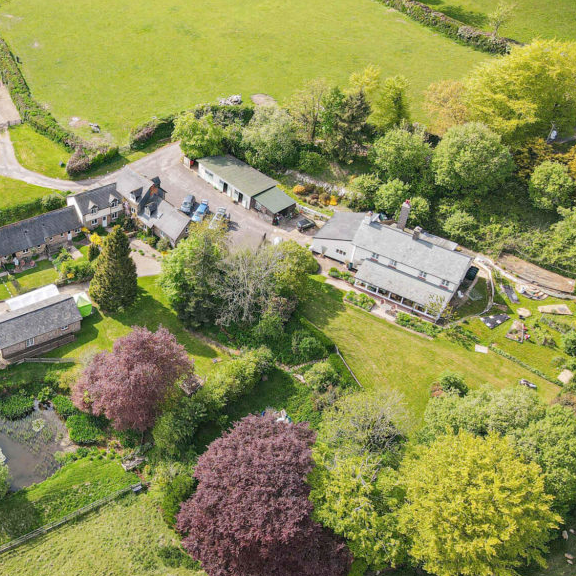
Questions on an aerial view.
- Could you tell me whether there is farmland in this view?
Yes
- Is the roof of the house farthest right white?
Yes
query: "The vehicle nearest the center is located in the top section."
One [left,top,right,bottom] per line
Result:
[294,210,320,231]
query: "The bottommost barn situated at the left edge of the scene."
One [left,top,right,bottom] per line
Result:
[0,293,82,358]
